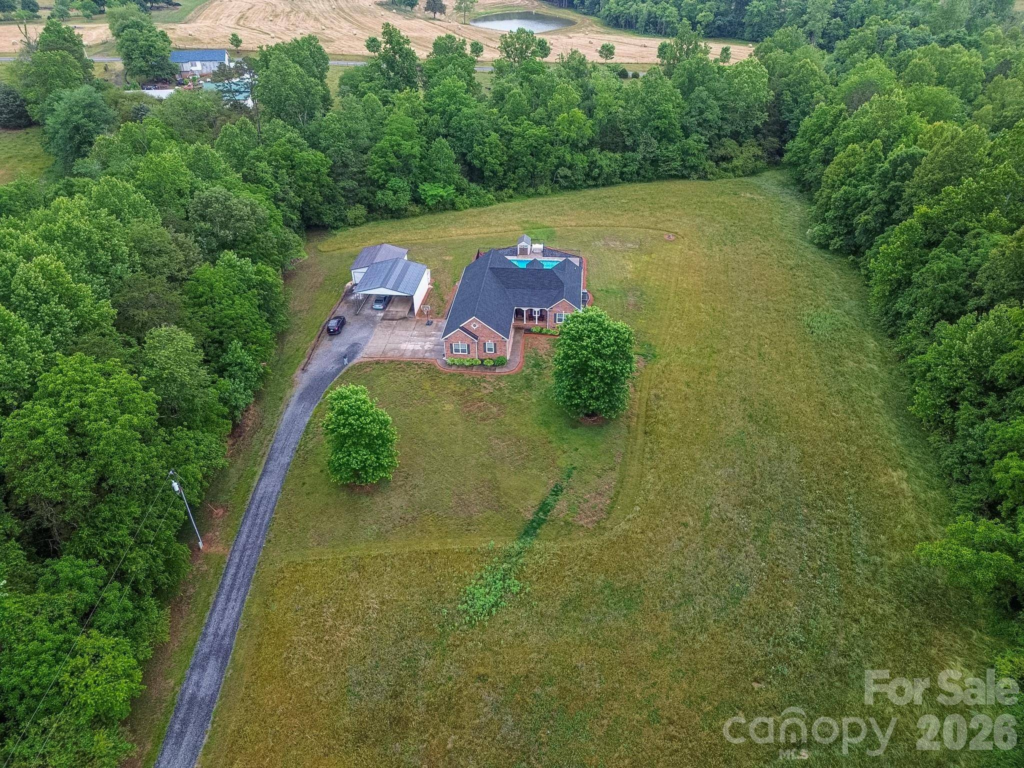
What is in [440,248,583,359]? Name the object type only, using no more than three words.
house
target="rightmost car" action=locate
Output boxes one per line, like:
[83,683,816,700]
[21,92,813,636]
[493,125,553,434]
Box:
[372,295,391,308]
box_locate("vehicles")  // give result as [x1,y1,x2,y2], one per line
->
[181,82,196,90]
[372,295,391,308]
[327,313,349,333]
[171,78,189,85]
